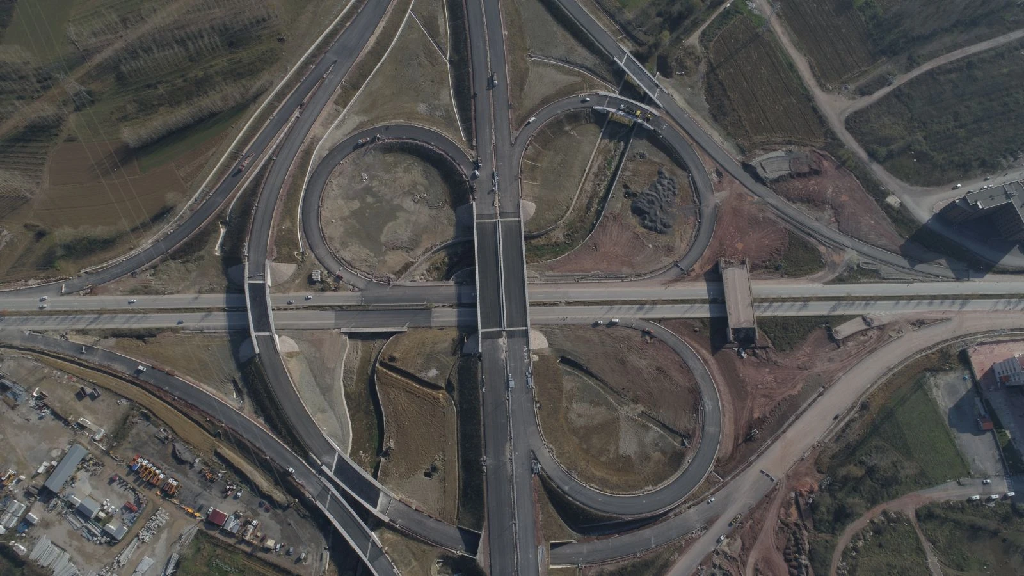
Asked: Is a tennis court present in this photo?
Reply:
No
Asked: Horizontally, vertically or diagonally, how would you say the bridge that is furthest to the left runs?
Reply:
vertically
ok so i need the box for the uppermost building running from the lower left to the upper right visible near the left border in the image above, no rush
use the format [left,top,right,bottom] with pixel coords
[44,445,94,493]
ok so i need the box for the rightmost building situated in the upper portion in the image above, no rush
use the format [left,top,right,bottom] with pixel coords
[943,179,1024,243]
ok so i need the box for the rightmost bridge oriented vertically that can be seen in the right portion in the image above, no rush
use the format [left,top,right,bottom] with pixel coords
[715,259,758,347]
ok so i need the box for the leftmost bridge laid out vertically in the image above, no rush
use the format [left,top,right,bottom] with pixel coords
[245,260,281,354]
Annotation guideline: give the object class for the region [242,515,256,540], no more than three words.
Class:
vehicle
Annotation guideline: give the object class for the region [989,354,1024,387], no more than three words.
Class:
building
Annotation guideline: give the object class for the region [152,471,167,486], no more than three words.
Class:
vehicle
